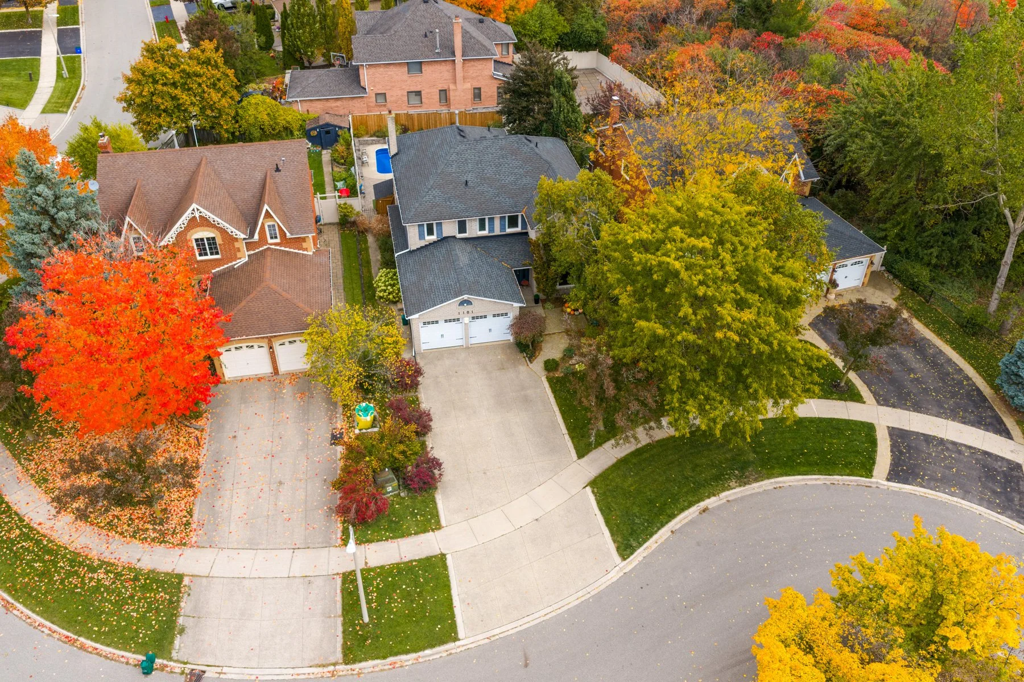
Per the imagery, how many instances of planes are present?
0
